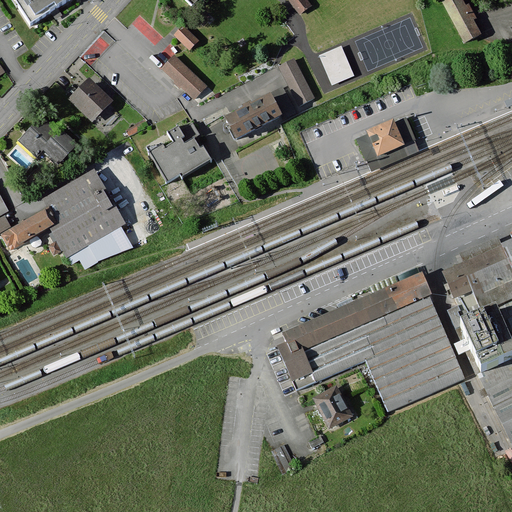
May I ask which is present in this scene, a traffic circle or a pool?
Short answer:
pool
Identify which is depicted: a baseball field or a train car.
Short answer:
train car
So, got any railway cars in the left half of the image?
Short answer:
Yes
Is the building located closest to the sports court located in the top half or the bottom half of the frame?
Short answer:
top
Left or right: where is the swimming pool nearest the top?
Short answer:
left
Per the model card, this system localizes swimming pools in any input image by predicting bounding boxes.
[8,148,32,170]
[342,426,354,436]
[15,257,38,284]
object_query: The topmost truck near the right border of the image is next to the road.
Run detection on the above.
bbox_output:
[470,181,506,208]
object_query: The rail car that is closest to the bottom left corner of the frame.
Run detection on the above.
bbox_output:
[4,370,44,390]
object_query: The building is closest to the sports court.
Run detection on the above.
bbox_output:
[319,46,354,86]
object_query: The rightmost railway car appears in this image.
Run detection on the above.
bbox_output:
[414,164,454,186]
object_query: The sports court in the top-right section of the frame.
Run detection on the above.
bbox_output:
[356,18,422,70]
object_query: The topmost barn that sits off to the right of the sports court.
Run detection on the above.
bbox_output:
[444,0,482,44]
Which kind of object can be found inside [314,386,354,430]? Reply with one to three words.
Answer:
house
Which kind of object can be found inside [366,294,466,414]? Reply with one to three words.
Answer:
building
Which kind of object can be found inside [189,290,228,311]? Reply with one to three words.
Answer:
rail car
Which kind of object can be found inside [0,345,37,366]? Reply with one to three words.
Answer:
rail car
